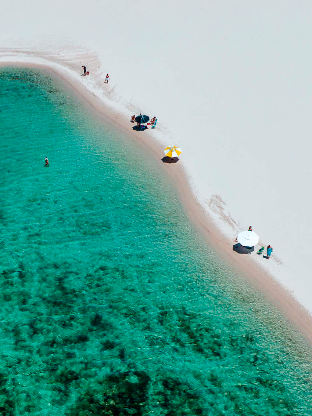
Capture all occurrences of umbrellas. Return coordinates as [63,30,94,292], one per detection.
[135,114,150,128]
[164,145,182,158]
[237,230,260,251]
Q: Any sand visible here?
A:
Yes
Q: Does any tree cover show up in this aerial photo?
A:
No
